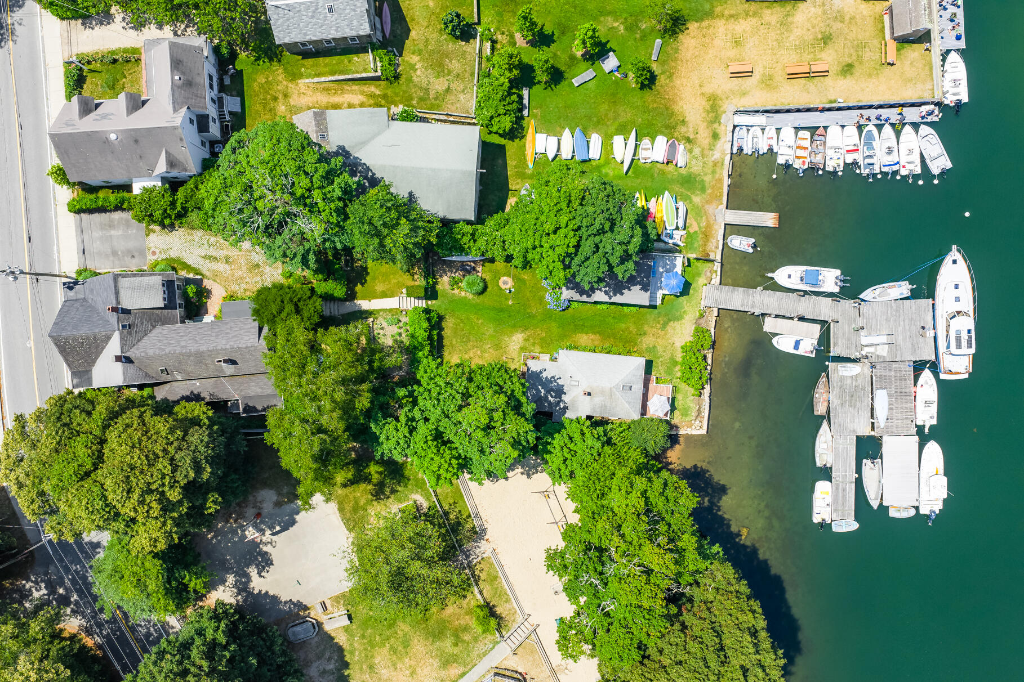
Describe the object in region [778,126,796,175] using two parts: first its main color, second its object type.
white boat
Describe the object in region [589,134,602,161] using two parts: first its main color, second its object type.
white boat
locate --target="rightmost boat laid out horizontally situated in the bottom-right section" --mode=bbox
[887,506,916,518]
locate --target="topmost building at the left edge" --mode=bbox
[48,36,241,196]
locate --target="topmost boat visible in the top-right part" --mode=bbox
[942,48,967,118]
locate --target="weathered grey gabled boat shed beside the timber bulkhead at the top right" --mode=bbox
[877,0,932,48]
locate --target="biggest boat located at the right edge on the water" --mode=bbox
[933,241,979,379]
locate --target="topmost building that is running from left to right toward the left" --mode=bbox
[265,0,376,53]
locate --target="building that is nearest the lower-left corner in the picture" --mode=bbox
[49,272,287,416]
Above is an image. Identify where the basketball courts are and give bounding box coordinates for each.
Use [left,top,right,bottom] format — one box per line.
[194,489,352,622]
